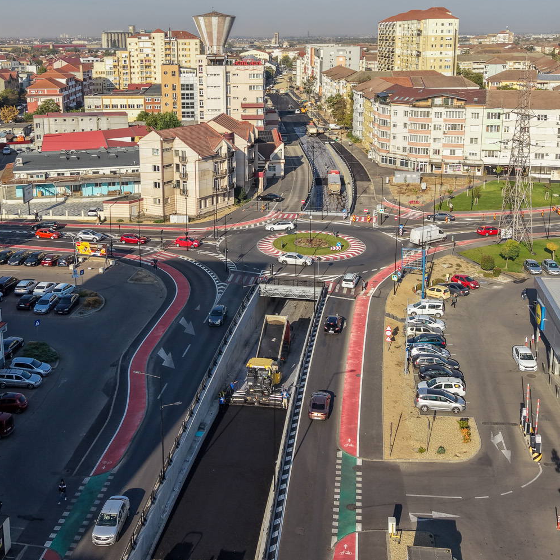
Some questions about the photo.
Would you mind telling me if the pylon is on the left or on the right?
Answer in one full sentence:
The pylon sits on the right side.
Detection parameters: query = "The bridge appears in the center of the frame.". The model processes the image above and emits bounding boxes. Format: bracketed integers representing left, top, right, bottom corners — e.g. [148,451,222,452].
[261,284,320,302]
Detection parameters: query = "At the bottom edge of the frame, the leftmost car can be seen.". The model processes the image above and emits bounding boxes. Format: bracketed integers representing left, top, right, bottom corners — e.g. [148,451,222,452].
[88,499,133,553]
